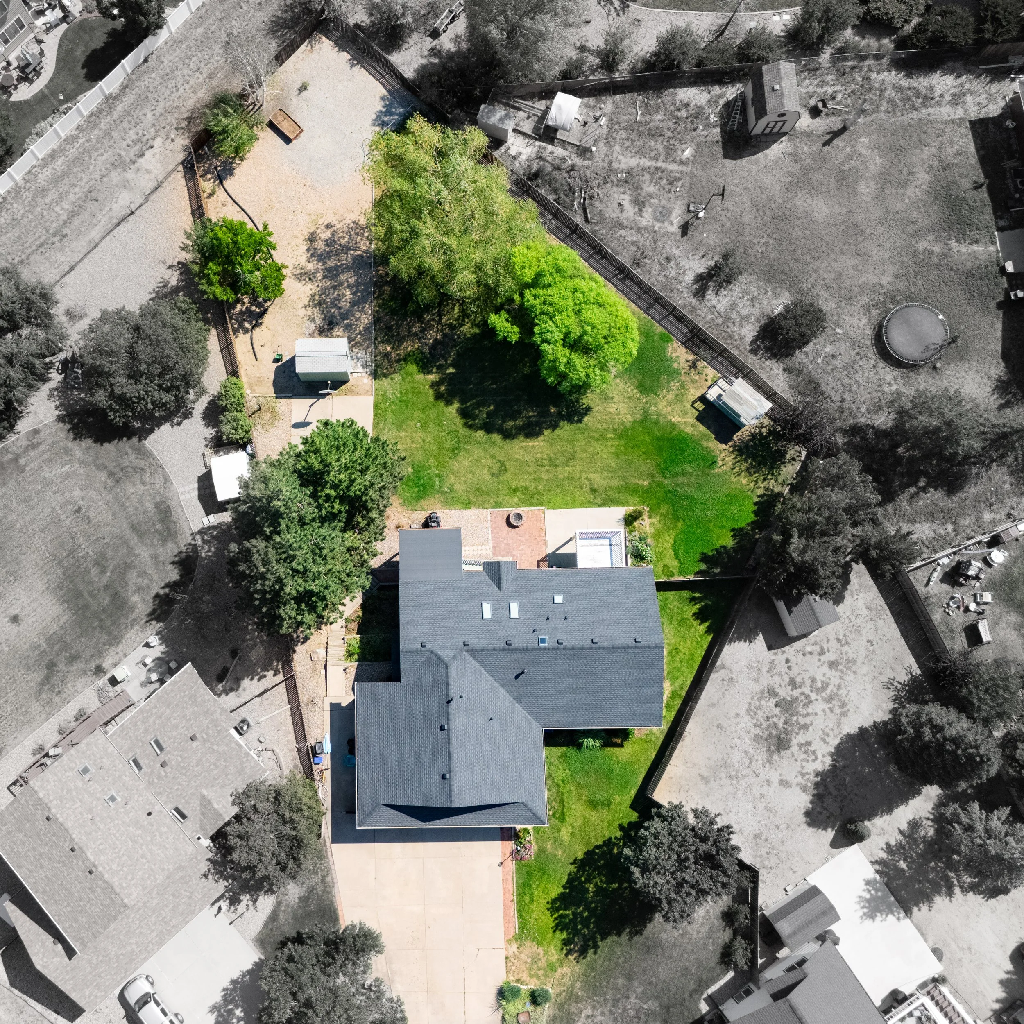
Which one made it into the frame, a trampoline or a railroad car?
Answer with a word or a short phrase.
trampoline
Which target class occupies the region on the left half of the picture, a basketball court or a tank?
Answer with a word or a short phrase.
basketball court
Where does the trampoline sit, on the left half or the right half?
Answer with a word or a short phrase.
right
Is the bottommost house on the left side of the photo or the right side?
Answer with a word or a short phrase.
right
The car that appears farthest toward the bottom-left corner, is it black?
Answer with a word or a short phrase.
No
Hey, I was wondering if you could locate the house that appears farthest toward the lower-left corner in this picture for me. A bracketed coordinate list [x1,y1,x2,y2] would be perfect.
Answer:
[0,662,269,1010]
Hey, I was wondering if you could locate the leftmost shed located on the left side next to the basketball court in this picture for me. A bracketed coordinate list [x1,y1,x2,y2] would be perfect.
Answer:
[295,337,349,381]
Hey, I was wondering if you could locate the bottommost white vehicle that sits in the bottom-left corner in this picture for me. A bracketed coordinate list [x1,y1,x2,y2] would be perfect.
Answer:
[113,972,185,1024]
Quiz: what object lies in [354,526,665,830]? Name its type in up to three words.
house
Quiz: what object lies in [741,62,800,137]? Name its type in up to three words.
shed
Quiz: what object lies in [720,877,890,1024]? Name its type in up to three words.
house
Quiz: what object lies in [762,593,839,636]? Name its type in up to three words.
shed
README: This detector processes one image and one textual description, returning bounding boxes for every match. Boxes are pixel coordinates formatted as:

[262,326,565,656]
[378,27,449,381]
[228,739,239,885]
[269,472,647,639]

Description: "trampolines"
[880,299,954,368]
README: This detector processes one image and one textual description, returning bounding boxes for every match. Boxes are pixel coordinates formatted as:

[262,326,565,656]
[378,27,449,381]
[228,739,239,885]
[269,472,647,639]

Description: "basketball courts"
[288,396,372,471]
